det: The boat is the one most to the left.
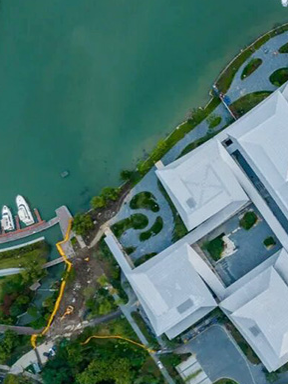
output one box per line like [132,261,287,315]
[0,206,13,231]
